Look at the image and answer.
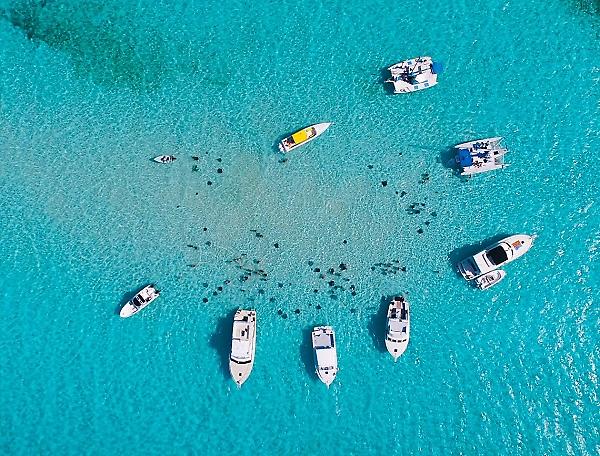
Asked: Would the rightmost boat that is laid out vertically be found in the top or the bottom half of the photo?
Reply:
bottom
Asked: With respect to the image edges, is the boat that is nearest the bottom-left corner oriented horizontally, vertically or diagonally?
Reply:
diagonally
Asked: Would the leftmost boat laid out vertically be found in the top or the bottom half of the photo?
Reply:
bottom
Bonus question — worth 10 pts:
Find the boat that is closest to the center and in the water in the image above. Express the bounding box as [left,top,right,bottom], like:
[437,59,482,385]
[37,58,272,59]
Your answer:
[278,122,332,153]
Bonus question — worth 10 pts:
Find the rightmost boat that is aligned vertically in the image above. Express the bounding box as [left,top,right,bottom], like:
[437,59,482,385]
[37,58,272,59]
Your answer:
[387,297,409,361]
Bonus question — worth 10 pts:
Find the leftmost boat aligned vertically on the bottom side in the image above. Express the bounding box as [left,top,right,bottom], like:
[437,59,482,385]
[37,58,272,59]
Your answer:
[231,308,257,387]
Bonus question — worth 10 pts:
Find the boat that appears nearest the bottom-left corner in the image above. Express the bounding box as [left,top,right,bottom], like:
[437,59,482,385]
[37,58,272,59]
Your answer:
[120,284,161,318]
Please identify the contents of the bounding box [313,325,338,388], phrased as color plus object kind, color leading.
white boat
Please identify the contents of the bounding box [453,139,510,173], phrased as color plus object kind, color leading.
white boat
